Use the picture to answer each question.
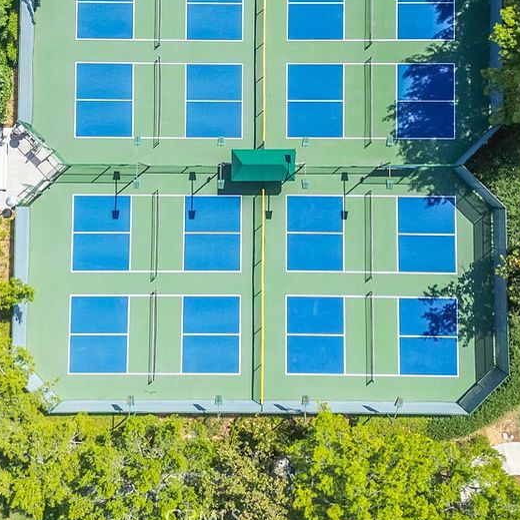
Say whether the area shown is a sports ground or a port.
sports ground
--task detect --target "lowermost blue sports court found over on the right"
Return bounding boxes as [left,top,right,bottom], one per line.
[285,295,458,377]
